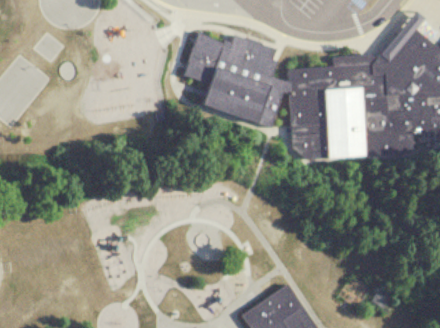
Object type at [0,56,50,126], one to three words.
basketball court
